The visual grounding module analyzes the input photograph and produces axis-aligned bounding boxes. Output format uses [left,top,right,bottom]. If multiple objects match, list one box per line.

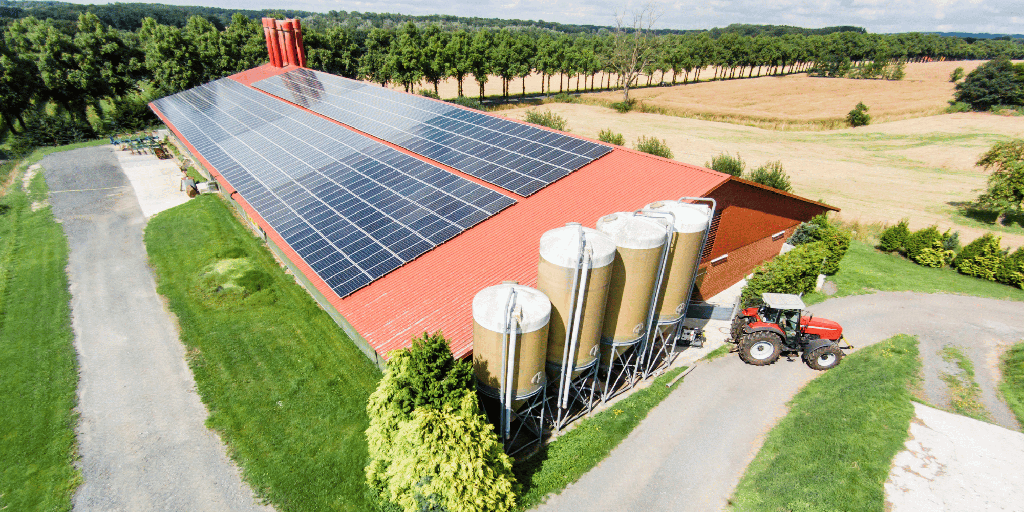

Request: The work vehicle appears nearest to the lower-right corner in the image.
[720,294,857,372]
